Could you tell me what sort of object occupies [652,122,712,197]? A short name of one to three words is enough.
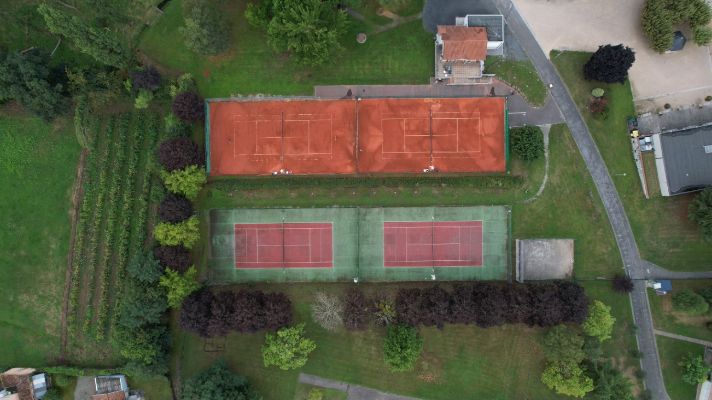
building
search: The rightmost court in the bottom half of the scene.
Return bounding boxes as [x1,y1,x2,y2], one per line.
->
[359,205,509,280]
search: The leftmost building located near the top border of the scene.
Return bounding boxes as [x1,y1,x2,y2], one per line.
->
[435,15,503,83]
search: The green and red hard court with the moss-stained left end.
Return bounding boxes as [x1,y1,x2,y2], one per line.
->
[209,207,358,282]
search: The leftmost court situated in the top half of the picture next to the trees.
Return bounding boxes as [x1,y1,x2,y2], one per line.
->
[209,99,357,177]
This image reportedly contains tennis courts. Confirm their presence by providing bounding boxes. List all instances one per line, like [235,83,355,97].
[209,99,357,177]
[209,207,358,282]
[359,205,509,280]
[357,97,506,175]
